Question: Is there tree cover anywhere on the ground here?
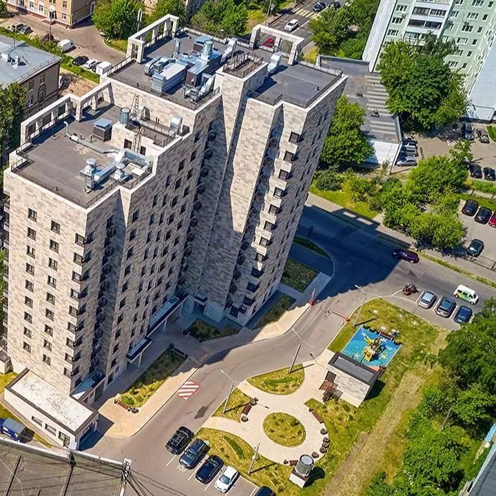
Yes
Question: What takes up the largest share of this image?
buildings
